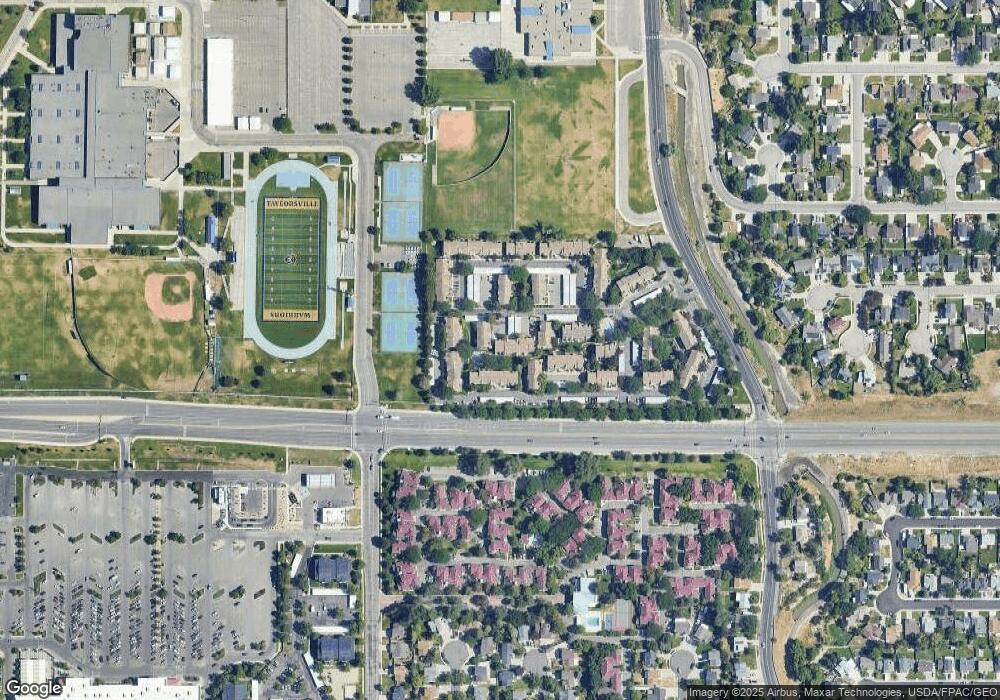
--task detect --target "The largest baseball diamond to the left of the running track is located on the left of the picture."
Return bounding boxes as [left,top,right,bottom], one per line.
[146,271,194,335]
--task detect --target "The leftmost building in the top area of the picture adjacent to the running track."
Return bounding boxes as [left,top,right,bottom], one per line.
[29,14,179,243]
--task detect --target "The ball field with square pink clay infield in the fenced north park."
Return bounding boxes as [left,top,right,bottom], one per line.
[437,102,509,185]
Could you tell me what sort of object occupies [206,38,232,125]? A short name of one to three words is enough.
building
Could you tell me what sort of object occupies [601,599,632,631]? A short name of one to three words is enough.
sports court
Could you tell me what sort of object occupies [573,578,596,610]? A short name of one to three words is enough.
building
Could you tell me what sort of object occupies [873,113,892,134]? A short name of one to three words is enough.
house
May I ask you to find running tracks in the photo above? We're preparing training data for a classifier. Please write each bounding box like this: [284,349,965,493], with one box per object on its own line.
[244,160,338,359]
